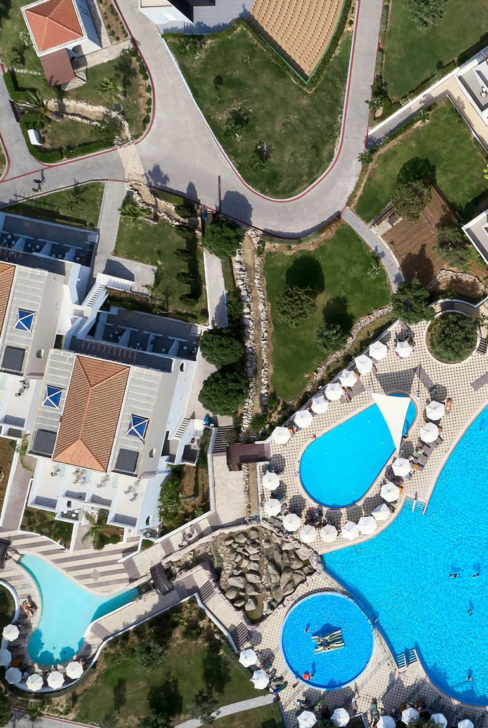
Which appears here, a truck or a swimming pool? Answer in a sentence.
Visible in the photo is a swimming pool.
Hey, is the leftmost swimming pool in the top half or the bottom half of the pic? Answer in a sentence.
The leftmost swimming pool sits in the bottom half of the picture.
